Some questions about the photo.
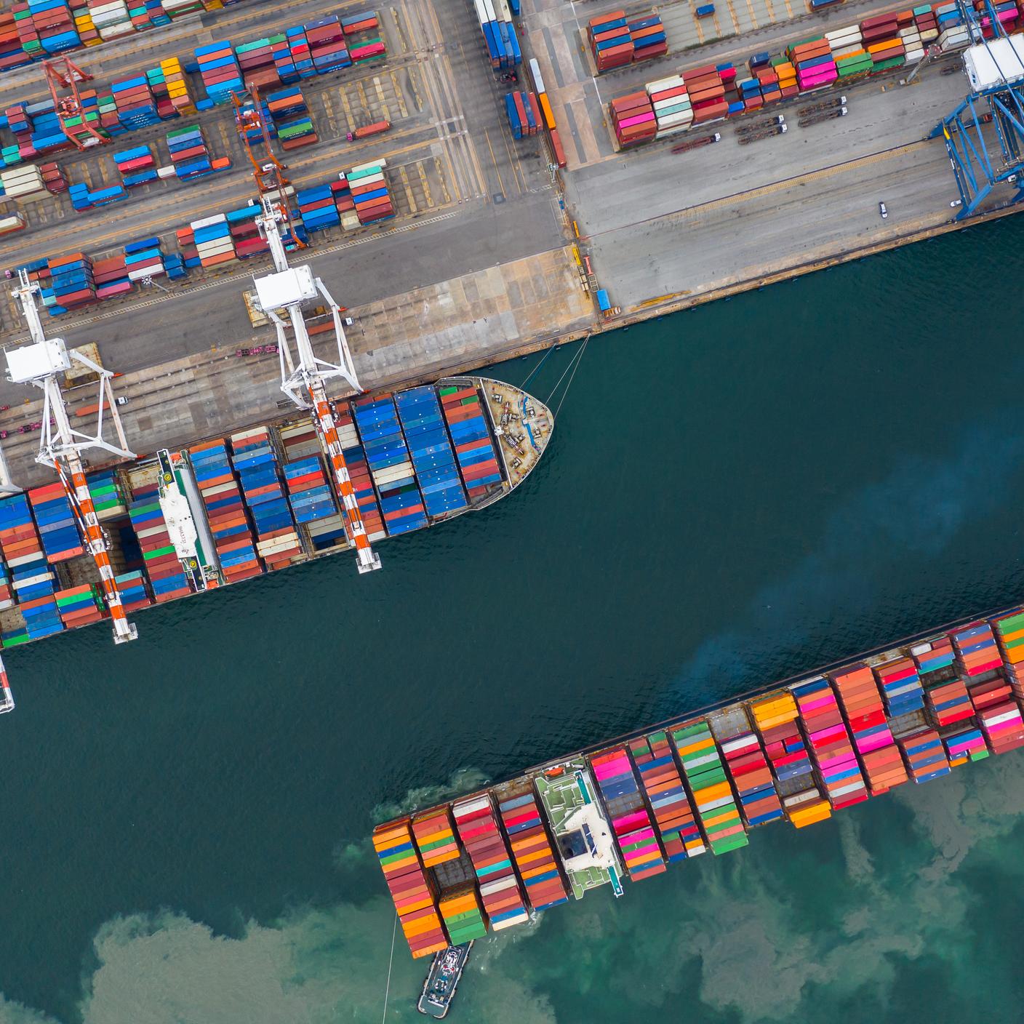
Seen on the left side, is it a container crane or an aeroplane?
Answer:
container crane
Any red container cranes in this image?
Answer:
Yes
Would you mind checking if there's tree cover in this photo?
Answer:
No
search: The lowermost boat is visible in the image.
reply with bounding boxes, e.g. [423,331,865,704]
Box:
[419,934,473,1022]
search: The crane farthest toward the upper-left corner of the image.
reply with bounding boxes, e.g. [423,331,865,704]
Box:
[38,50,112,150]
